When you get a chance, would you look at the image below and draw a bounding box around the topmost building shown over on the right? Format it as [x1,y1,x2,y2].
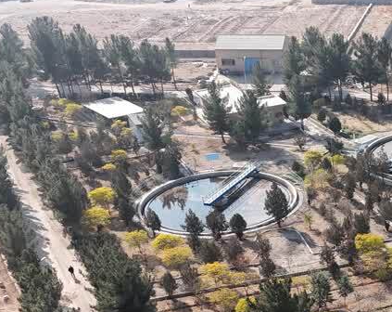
[210,35,298,77]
